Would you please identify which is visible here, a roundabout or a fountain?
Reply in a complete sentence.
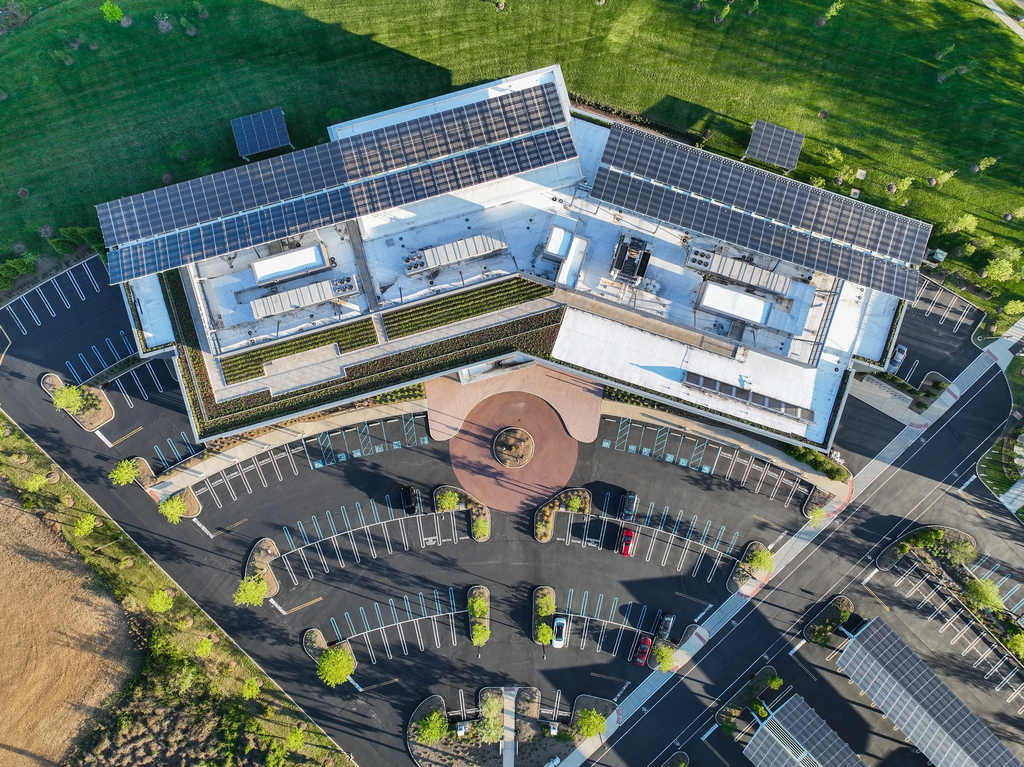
Looking from above, you can make out a roundabout.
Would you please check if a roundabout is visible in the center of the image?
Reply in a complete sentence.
Yes, in the center of the image there is a roundabout.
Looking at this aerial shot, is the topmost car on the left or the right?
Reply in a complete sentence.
It is on the right.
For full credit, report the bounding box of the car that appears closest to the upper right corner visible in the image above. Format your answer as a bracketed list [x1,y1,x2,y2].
[886,343,906,374]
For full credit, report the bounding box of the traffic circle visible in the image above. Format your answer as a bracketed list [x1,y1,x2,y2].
[449,391,578,512]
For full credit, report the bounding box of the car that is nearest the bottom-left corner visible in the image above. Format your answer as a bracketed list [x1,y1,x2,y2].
[402,485,418,516]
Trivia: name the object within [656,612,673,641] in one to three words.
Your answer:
car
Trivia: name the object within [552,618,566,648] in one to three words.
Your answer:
car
